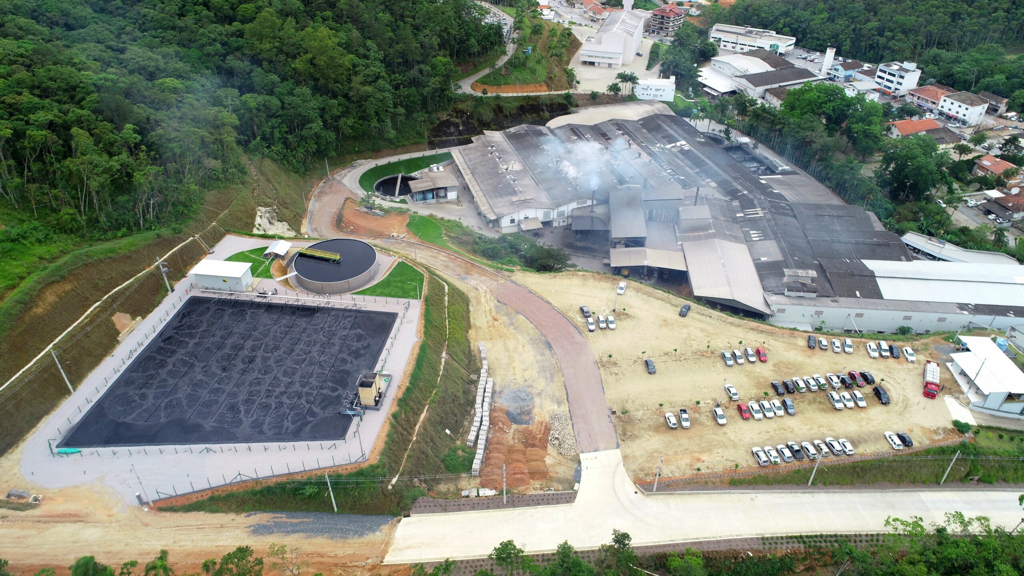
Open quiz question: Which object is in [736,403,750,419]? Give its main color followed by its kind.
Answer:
red car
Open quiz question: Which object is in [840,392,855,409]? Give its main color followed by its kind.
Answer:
white car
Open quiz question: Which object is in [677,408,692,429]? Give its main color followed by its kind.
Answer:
white vehicle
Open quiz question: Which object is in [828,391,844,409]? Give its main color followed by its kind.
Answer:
white car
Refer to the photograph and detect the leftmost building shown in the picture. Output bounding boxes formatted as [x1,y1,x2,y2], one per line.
[190,259,253,290]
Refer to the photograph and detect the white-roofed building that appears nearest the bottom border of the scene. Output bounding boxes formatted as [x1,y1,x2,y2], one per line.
[945,336,1024,405]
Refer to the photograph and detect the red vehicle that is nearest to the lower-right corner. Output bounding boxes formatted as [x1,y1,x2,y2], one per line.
[923,361,941,397]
